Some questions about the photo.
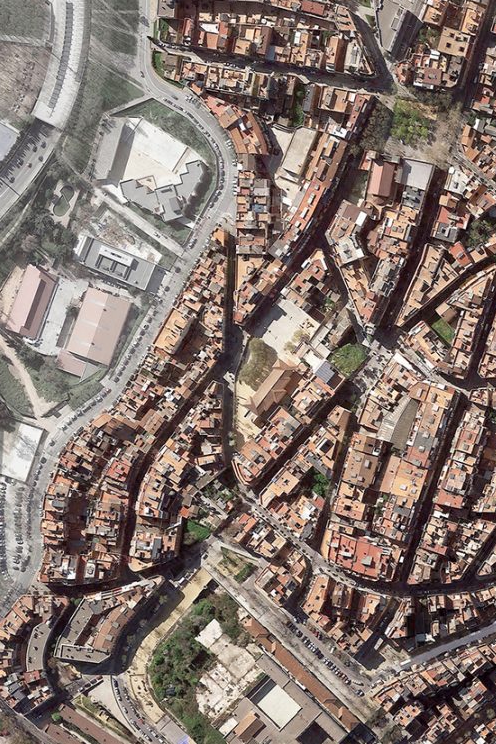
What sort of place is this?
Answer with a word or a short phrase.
residential area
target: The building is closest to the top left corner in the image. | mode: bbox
[0,122,18,161]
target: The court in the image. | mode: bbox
[1,423,44,481]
